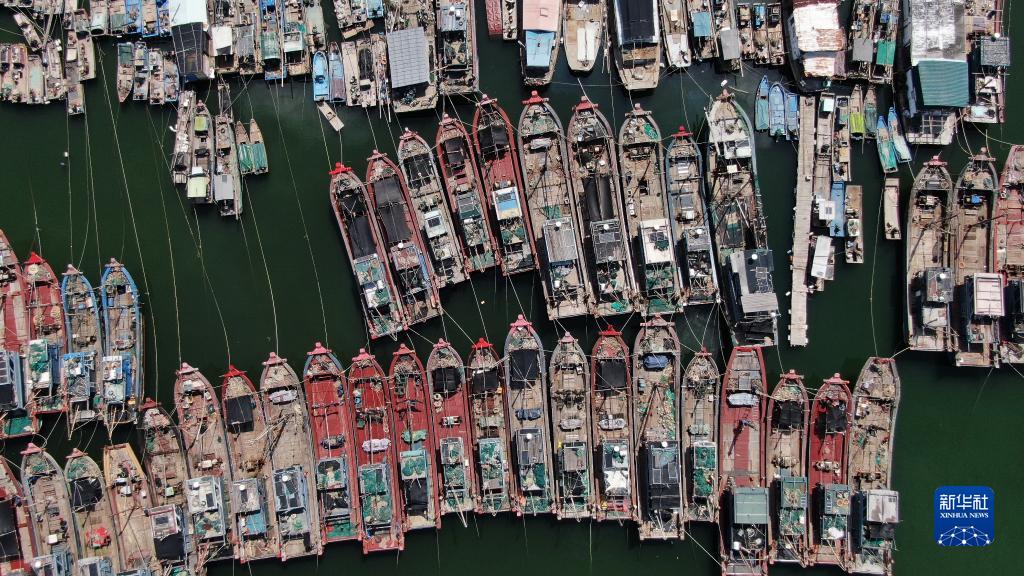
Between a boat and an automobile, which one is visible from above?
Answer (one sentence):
I can see a boat in this picture.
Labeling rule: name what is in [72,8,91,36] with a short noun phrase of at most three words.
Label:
boat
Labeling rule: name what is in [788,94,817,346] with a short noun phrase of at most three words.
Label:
pier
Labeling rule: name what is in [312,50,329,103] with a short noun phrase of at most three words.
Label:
boat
